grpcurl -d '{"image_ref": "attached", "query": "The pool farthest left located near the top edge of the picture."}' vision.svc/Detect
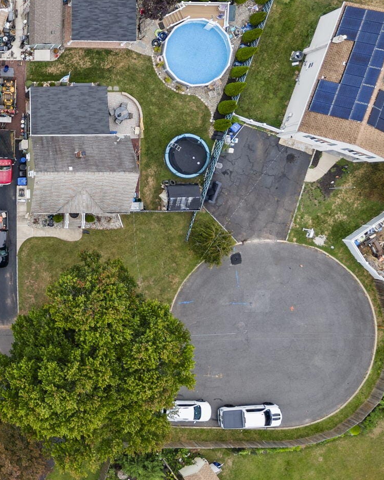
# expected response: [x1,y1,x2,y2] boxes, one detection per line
[160,18,232,89]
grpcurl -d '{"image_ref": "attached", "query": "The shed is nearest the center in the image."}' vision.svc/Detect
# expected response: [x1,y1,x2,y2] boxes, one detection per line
[162,183,202,210]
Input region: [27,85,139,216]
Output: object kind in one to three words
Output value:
house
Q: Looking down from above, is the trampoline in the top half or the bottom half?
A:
top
